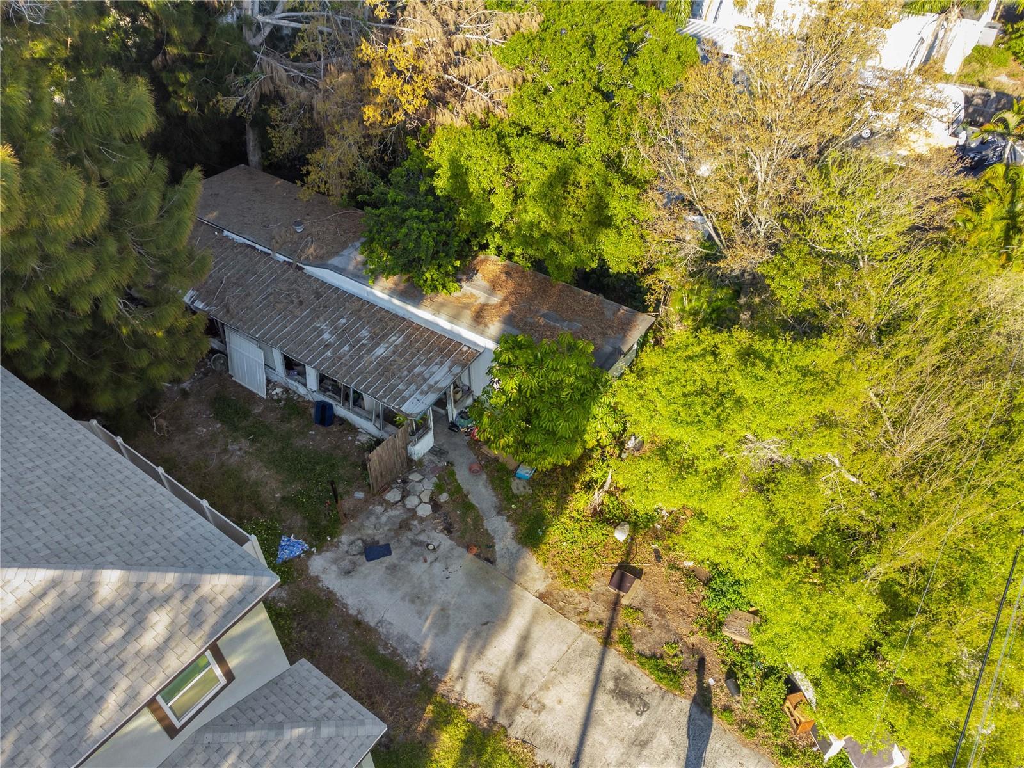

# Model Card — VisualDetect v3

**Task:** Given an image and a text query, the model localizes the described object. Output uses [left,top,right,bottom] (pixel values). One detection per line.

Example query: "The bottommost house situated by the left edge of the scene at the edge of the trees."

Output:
[0,375,391,768]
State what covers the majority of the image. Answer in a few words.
trees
